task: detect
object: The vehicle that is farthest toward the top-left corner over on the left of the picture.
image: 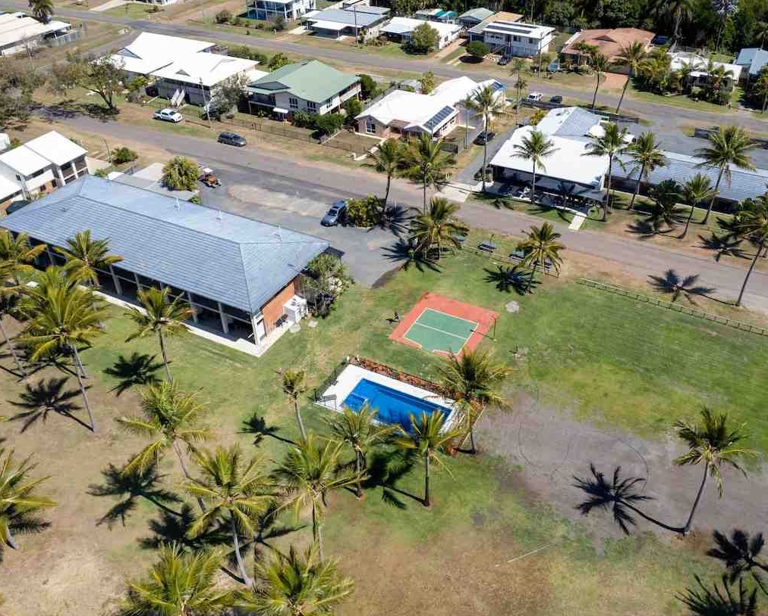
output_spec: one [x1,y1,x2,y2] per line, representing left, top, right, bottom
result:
[153,107,182,122]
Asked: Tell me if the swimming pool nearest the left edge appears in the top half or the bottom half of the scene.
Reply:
bottom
